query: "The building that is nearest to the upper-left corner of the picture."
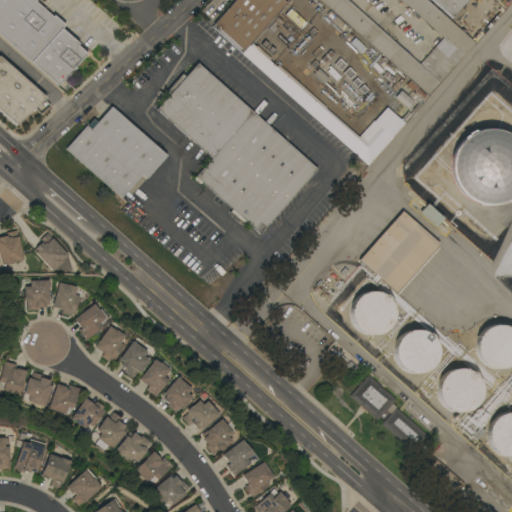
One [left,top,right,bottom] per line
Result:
[0,0,66,63]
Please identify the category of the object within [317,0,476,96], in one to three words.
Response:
building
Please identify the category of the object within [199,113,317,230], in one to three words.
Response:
warehouse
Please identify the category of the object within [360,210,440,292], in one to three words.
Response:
building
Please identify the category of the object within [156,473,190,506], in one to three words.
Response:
house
